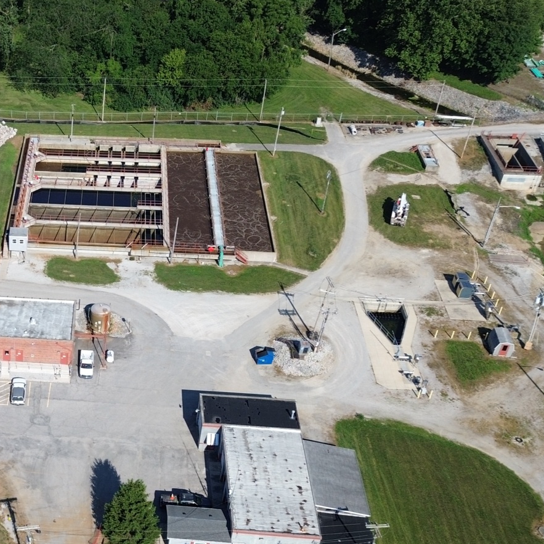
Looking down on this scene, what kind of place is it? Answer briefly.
industrial area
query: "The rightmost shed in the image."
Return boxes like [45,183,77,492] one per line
[489,323,515,357]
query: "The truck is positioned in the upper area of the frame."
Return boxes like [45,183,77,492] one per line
[390,181,412,218]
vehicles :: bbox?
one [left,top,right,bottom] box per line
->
[77,348,97,380]
[155,491,210,512]
[9,379,28,404]
[390,181,412,218]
